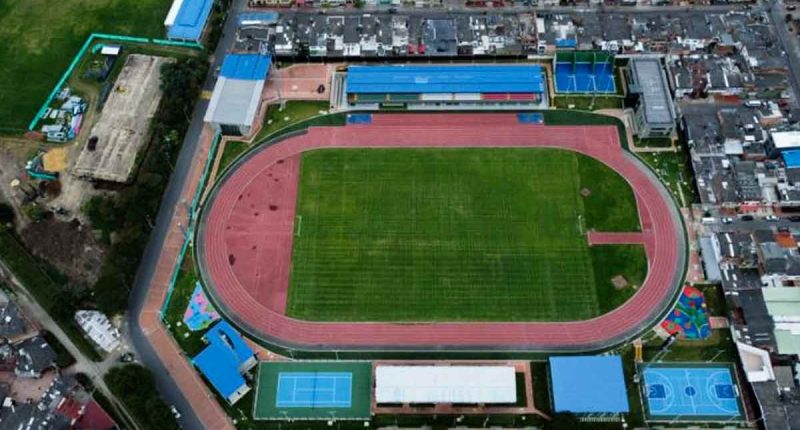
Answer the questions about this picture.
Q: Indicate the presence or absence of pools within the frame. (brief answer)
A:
No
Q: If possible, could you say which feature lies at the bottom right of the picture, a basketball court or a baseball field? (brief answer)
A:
basketball court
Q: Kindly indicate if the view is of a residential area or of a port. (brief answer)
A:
residential area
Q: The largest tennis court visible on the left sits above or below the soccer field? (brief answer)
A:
below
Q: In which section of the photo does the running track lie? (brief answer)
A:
center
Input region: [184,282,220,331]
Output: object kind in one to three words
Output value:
playground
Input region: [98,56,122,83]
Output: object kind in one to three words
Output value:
shed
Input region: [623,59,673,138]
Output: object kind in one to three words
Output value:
building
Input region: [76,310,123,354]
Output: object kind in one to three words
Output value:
building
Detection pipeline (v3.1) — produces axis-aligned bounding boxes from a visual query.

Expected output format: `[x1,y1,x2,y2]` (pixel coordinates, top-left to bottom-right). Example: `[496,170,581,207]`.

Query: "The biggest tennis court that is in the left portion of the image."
[254,362,372,419]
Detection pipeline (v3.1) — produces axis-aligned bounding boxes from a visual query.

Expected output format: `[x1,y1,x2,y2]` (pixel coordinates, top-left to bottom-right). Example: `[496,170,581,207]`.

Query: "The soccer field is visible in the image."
[287,146,649,322]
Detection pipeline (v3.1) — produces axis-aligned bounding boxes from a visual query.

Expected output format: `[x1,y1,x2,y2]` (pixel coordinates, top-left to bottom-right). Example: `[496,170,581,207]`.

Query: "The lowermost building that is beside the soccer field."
[376,366,516,407]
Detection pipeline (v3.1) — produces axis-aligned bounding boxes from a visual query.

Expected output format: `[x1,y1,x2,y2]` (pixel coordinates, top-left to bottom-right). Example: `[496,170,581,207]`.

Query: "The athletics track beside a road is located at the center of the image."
[192,108,691,360]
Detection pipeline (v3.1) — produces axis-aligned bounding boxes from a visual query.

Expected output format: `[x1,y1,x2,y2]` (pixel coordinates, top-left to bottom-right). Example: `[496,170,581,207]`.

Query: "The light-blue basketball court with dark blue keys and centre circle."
[637,364,747,421]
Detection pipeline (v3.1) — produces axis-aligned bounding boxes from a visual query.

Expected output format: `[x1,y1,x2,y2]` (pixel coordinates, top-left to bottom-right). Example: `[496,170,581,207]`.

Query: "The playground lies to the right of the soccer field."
[662,287,710,339]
